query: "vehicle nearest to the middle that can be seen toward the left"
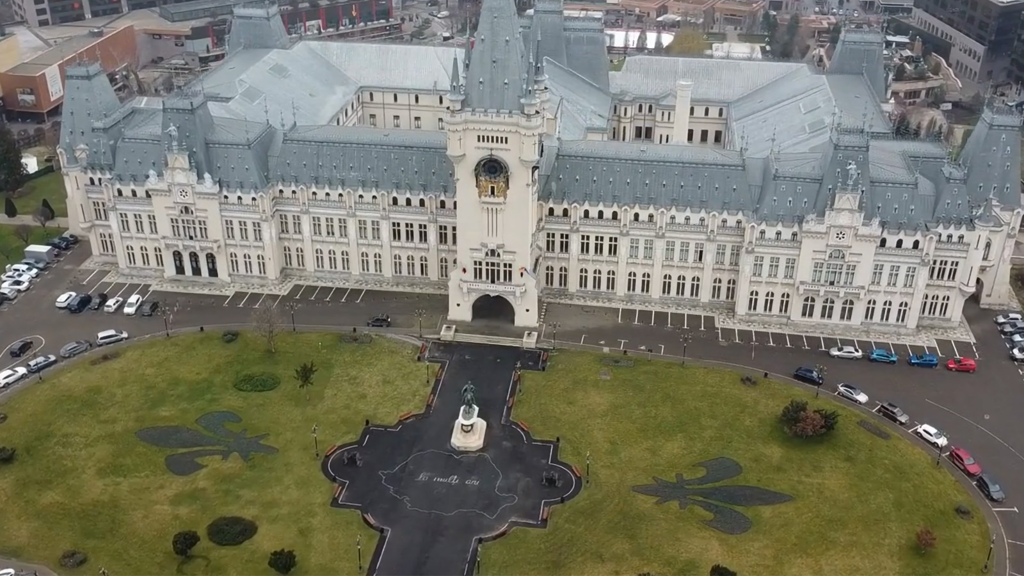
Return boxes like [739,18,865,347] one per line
[364,314,394,328]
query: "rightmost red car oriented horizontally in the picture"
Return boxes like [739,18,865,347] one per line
[947,360,978,375]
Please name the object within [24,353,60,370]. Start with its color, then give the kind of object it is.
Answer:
gray car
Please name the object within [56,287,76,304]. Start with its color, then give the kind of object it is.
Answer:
white car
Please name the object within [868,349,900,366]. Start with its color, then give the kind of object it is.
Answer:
blue car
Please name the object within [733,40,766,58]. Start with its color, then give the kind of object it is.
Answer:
white tent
